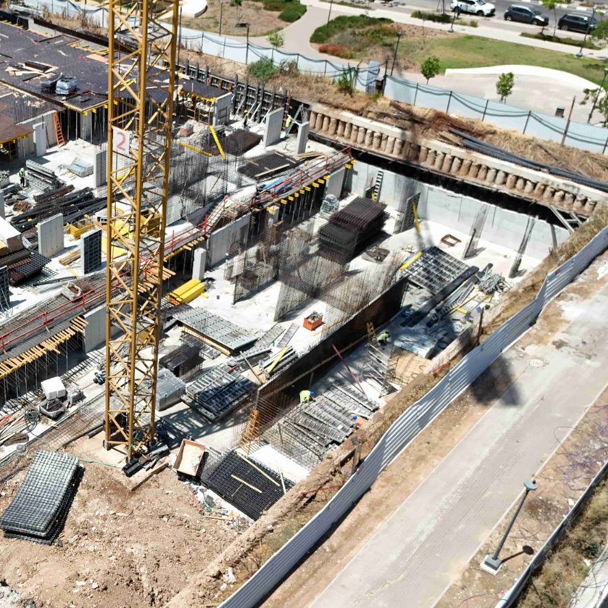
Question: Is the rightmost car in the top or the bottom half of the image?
top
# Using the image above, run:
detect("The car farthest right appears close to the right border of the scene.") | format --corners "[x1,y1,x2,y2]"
[554,13,608,35]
